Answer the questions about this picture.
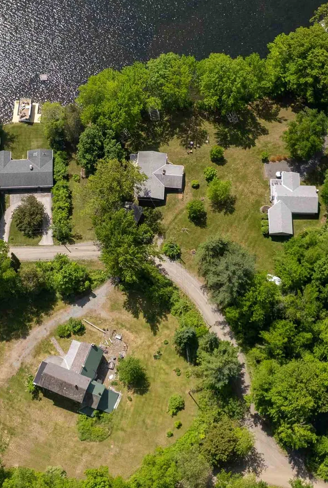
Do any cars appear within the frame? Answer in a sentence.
No, no car can be seen from above.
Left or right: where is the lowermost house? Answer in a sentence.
The lowermost house sits on the left side.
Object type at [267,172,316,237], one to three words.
house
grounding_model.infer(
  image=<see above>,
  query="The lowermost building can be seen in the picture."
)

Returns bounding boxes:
[34,340,123,417]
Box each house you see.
[267,172,316,237]
[131,151,183,204]
[0,149,53,190]
[34,340,123,417]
